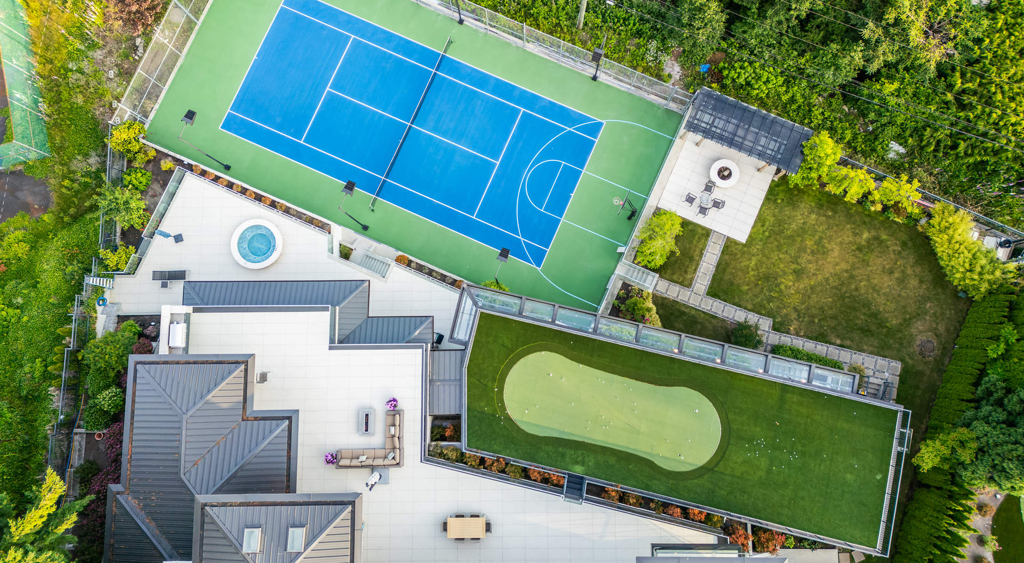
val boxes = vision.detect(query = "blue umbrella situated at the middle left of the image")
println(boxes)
[154,230,183,243]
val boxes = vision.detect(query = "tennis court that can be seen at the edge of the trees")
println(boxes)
[146,0,684,332]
